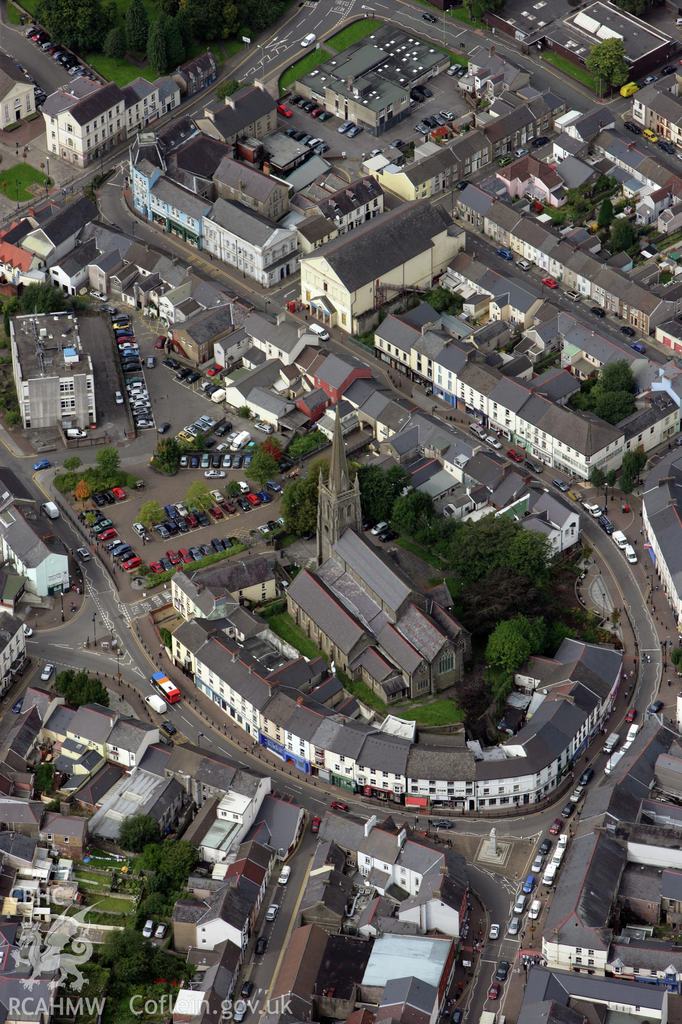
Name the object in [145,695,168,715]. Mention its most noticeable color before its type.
white vehicle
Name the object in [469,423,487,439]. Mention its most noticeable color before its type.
gray car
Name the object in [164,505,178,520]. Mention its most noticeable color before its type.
blue car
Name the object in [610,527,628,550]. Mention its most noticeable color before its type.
white vehicle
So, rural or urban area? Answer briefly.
urban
